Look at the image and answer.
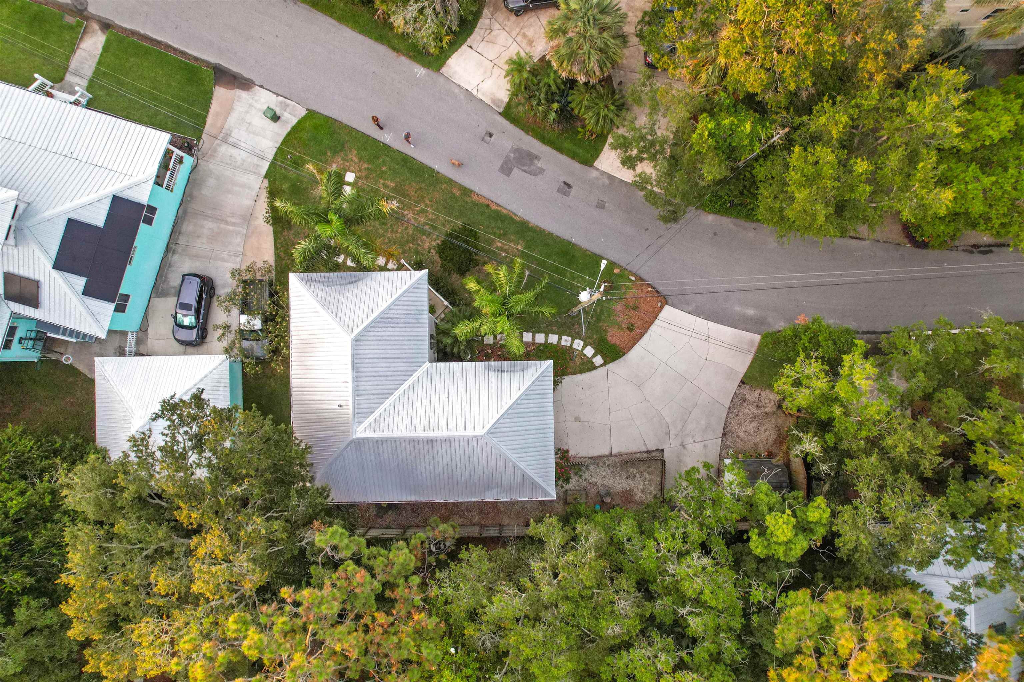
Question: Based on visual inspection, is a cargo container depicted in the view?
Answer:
No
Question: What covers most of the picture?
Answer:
trees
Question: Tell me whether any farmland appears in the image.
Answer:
No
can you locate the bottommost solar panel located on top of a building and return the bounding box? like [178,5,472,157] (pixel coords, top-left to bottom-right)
[3,270,40,310]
